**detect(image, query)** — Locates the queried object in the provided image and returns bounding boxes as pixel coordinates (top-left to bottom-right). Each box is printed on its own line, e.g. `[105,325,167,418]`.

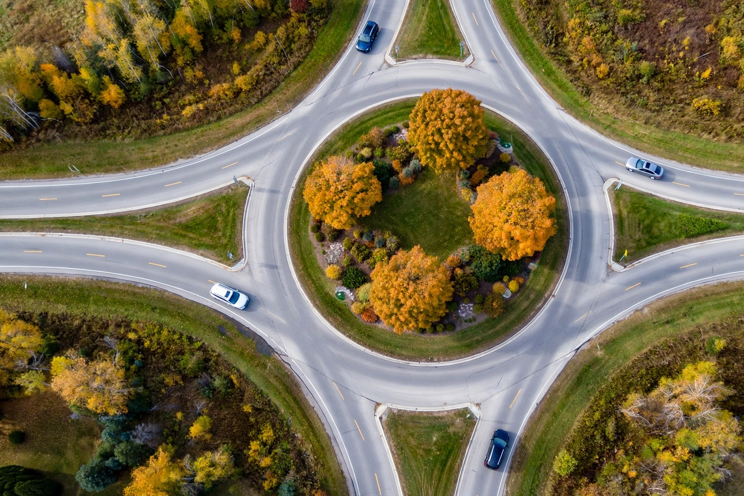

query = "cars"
[356,22,380,55]
[483,429,510,473]
[208,282,250,310]
[624,159,665,182]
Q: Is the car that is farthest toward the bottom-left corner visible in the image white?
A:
Yes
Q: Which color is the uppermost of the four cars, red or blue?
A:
blue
